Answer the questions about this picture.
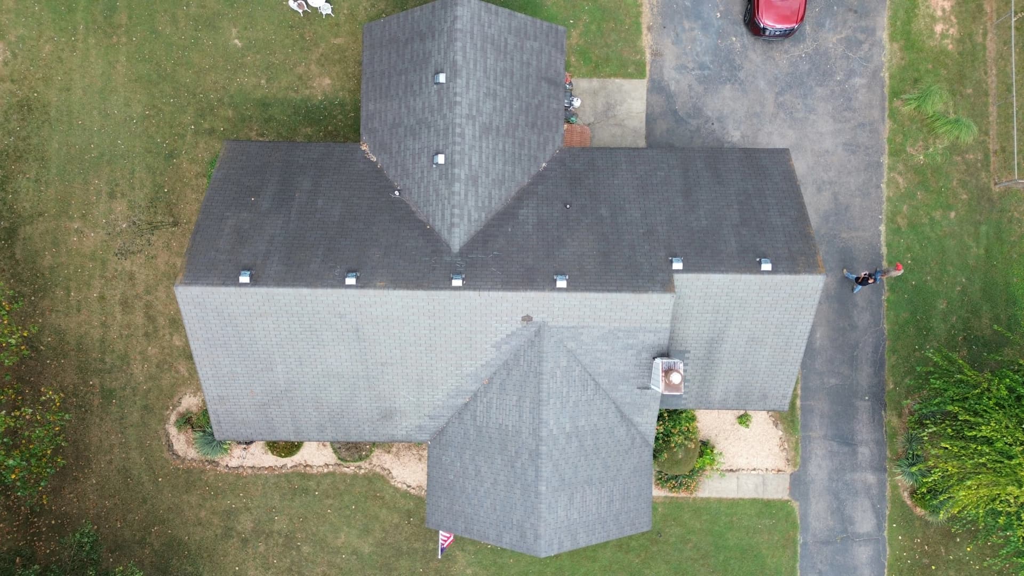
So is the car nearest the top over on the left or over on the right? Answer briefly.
right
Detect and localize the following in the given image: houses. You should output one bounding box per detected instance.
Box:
[175,0,825,557]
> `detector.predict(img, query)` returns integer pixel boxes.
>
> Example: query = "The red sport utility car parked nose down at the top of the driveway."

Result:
[745,0,803,38]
